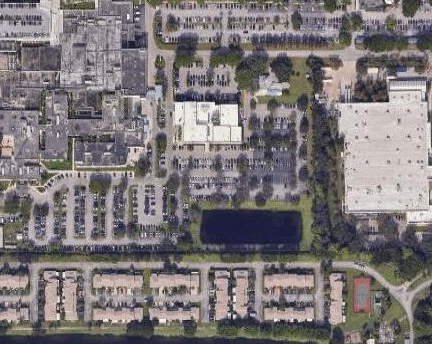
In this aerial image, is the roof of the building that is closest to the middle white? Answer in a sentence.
Yes, the roof of the building that is closest to the middle is white.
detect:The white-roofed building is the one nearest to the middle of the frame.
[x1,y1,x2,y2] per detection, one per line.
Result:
[174,101,241,144]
